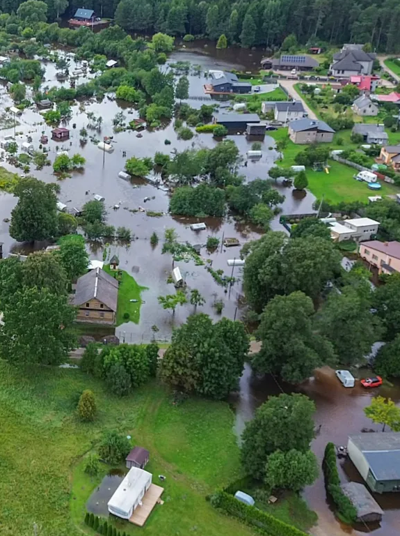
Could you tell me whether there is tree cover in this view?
Yes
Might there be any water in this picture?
Yes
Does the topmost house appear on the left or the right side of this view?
left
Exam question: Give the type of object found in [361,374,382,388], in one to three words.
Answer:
vehicle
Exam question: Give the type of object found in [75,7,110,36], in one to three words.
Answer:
house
